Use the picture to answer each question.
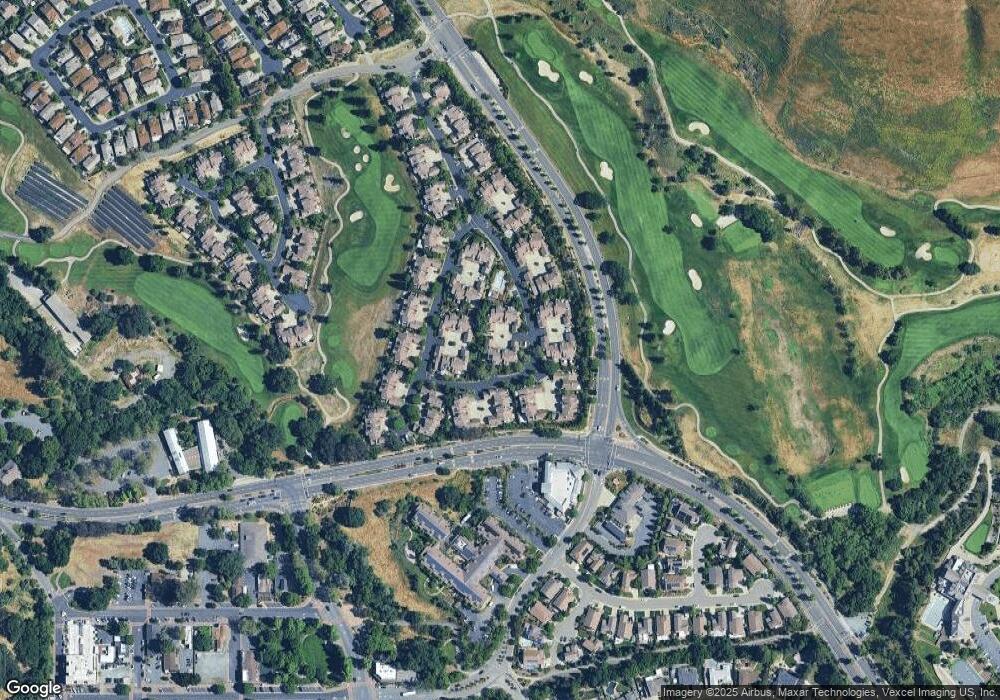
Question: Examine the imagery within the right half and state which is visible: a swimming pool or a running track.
swimming pool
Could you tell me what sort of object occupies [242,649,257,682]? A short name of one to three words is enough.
barn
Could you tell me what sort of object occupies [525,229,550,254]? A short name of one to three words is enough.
building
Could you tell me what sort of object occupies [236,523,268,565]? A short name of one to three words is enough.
building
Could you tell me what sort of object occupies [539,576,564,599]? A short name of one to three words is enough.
house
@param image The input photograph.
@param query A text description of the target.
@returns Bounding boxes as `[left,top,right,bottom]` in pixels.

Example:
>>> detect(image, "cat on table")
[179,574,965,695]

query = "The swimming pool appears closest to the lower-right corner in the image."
[921,593,950,631]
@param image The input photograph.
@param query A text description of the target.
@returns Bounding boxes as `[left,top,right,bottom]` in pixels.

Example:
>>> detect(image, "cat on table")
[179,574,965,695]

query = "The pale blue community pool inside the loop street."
[112,16,135,46]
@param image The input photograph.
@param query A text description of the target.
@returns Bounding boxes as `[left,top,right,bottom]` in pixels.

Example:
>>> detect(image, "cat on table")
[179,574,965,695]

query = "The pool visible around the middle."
[492,276,505,297]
